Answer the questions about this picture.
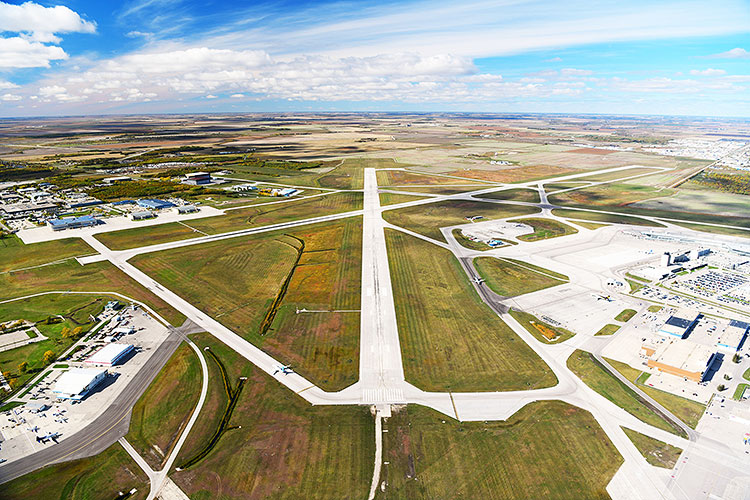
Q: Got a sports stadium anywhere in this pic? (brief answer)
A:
No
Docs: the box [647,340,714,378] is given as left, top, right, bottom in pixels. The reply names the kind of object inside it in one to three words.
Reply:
building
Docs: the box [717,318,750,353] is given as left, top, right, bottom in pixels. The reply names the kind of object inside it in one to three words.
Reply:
hangar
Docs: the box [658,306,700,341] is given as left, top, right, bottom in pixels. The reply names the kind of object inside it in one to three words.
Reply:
hangar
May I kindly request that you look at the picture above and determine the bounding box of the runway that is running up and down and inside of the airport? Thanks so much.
[359,168,407,403]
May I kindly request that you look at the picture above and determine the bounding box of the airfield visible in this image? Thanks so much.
[0,165,750,500]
